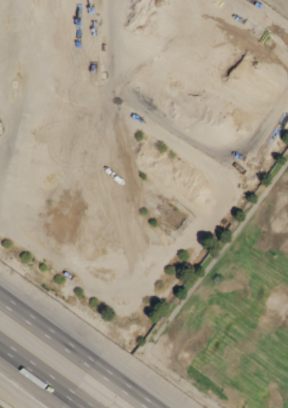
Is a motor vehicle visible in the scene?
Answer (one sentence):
Yes, there is a motor vehicle in the image.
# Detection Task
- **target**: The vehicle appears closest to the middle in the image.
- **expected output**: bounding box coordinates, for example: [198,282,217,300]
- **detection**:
[104,164,127,186]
